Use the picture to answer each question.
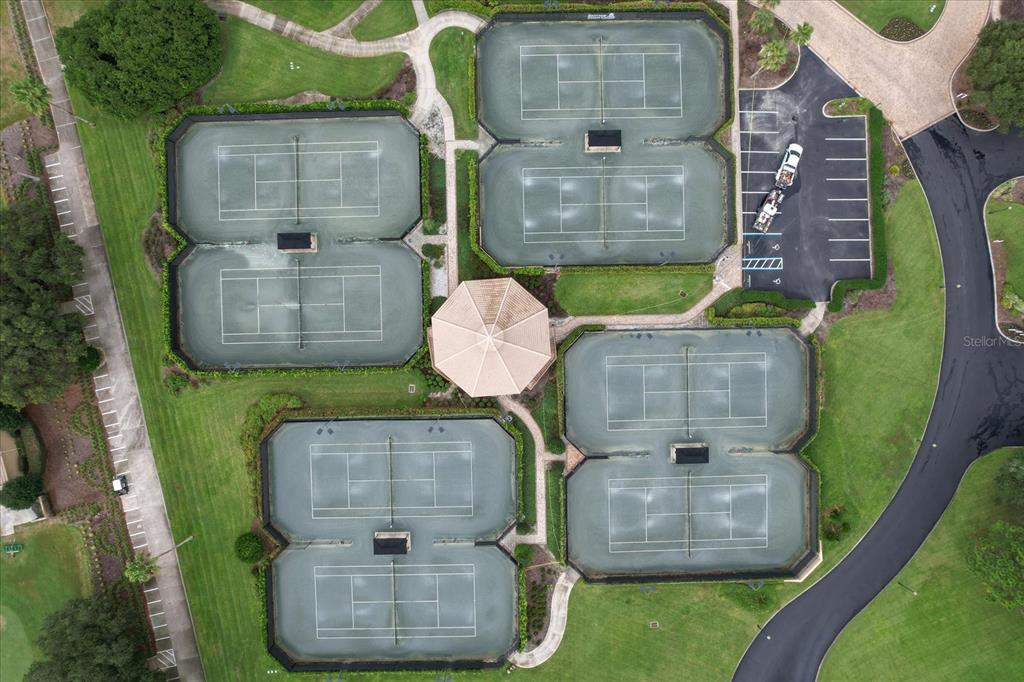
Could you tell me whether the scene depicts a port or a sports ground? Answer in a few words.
sports ground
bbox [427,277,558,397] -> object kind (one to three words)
building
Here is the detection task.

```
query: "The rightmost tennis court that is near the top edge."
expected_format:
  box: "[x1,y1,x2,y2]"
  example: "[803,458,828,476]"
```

[478,20,725,142]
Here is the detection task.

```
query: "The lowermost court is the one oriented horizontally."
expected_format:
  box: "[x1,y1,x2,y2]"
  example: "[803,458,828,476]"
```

[274,541,516,661]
